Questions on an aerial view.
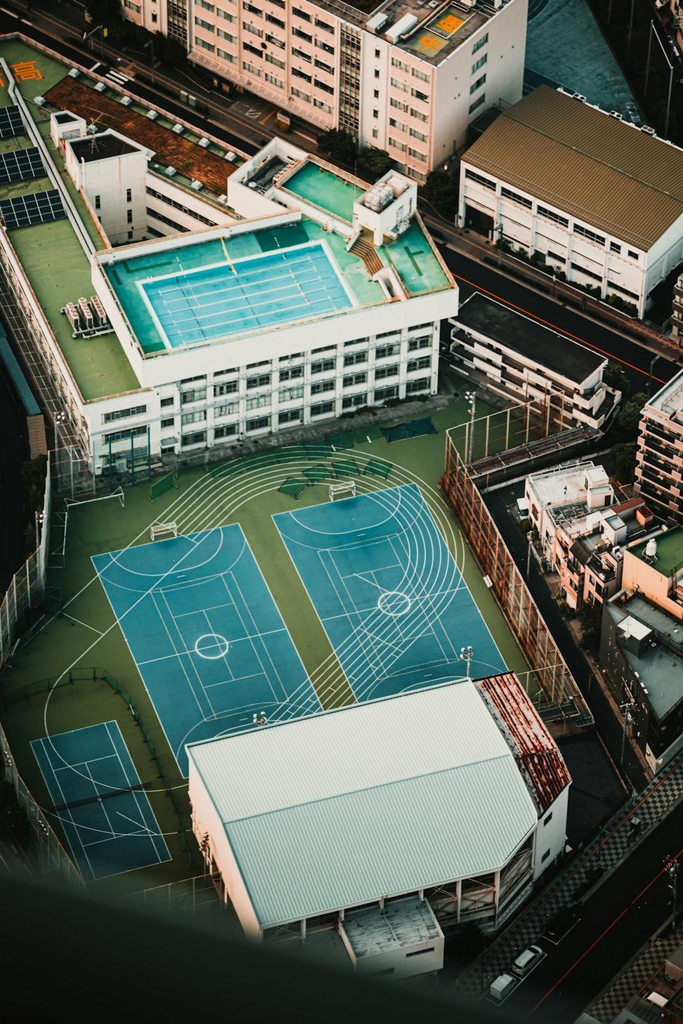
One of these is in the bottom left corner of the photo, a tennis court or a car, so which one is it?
tennis court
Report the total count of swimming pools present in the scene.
1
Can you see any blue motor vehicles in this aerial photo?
No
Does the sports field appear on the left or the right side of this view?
right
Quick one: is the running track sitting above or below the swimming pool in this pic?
below it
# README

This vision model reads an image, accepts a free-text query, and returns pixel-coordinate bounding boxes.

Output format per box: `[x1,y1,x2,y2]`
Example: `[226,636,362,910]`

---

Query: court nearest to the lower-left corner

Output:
[31,720,172,876]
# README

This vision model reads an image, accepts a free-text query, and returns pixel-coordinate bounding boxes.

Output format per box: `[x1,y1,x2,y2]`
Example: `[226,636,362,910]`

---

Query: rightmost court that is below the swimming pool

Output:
[274,483,507,696]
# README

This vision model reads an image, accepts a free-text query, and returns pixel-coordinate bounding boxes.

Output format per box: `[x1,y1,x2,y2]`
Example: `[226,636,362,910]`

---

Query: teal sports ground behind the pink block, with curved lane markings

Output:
[533,0,644,129]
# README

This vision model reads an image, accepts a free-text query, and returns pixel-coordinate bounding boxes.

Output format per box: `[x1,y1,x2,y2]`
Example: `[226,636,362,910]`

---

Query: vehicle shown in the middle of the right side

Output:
[510,493,528,526]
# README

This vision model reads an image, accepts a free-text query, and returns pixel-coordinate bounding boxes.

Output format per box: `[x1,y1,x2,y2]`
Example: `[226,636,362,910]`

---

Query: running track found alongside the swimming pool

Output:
[0,435,466,839]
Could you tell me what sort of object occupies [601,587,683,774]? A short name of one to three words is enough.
building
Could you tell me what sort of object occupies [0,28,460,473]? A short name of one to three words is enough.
building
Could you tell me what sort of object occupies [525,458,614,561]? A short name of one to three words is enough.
house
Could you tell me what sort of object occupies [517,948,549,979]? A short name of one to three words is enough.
car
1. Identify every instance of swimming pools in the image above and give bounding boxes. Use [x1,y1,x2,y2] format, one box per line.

[104,218,450,358]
